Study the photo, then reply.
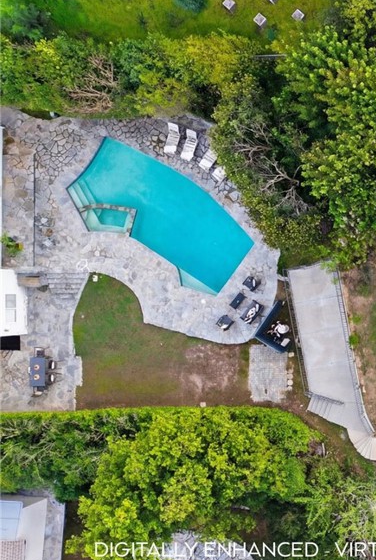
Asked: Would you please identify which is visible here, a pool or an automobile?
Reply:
pool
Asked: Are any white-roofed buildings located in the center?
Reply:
No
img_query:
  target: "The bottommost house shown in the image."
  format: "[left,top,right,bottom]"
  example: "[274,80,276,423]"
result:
[0,498,49,560]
